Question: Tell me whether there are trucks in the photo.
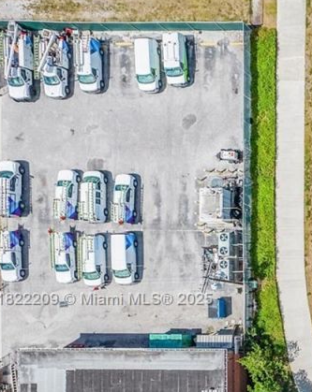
Yes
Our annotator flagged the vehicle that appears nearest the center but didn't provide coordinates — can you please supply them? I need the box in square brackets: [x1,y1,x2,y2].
[111,173,139,226]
